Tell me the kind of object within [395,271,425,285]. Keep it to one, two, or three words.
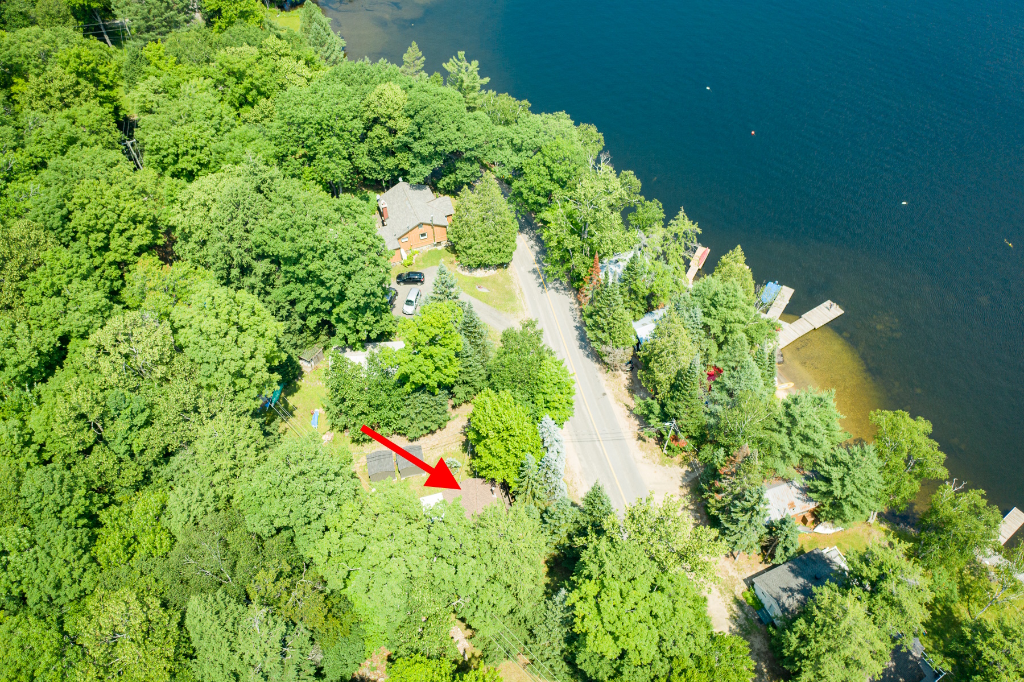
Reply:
car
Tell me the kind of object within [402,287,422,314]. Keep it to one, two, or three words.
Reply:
car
